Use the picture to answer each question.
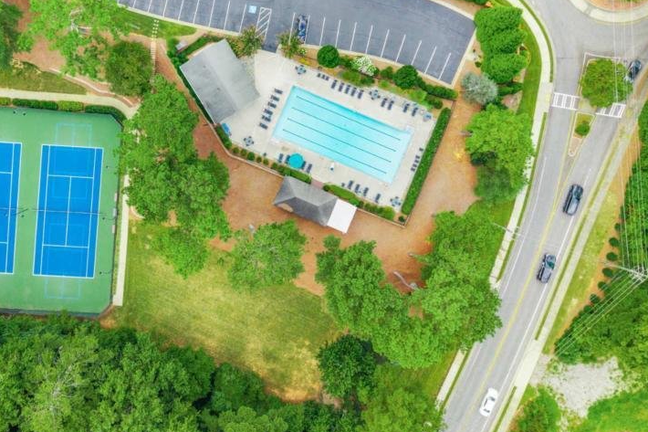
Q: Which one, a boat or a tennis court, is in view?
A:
tennis court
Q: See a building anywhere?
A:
Yes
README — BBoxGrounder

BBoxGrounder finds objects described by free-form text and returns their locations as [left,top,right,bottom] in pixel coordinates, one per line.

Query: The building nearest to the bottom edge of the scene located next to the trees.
[273,176,339,227]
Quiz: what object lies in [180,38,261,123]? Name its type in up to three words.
building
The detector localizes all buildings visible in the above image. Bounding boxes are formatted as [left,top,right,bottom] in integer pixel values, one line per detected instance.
[273,176,339,227]
[180,38,261,123]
